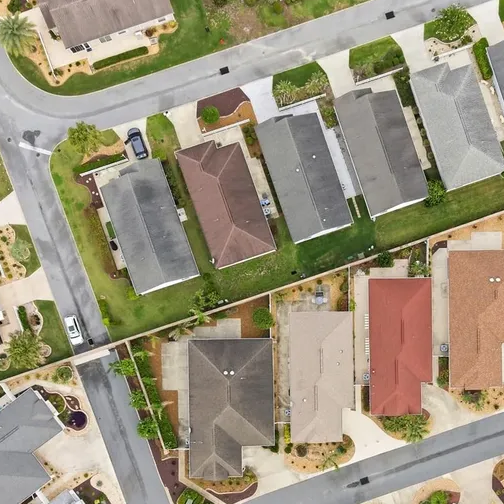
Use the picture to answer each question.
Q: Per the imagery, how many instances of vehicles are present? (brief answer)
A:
two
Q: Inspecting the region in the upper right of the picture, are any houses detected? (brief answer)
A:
Yes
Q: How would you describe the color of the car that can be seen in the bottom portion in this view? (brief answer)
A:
white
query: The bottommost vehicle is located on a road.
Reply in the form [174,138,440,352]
[63,314,86,346]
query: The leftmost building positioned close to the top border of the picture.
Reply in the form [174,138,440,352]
[40,0,175,55]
